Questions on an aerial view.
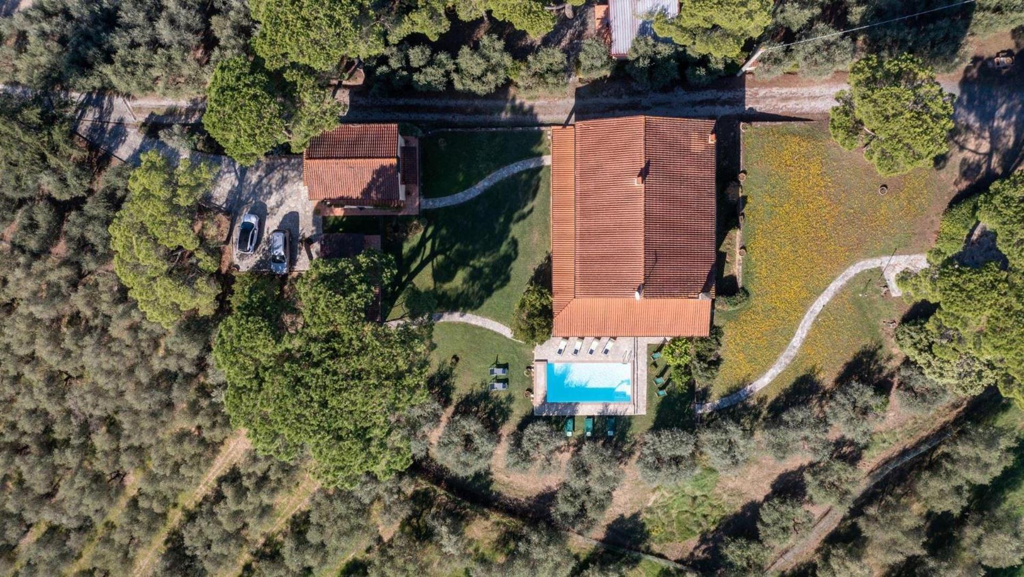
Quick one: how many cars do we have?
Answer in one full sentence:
The number of cars here is 2.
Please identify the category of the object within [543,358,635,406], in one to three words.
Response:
swimming pool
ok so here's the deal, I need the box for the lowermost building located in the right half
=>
[550,109,716,337]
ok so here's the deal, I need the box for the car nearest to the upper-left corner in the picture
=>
[237,214,260,253]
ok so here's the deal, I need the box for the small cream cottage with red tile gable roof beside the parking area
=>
[299,123,419,212]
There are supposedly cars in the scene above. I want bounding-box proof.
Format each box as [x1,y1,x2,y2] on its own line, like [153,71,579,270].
[237,214,260,253]
[268,230,290,273]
